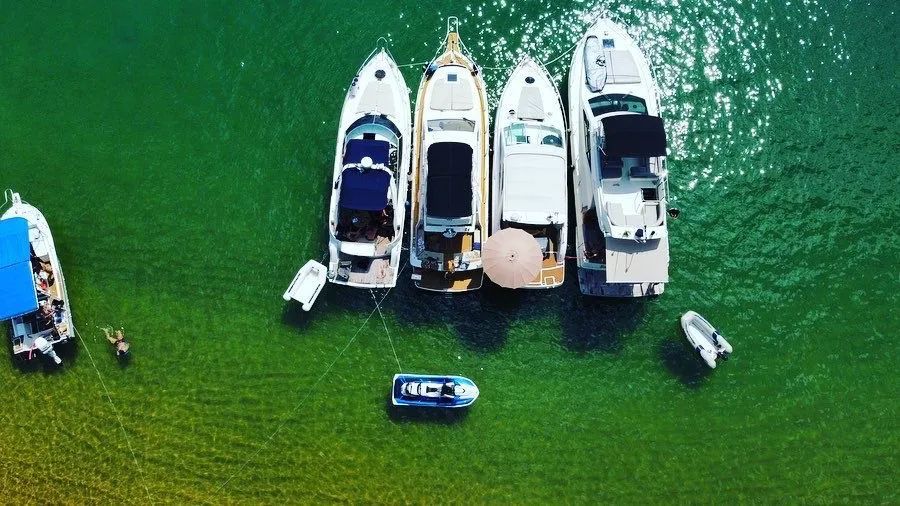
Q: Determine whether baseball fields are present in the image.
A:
No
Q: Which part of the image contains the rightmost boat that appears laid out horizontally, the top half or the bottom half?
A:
bottom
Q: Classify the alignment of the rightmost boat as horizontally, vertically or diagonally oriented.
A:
diagonally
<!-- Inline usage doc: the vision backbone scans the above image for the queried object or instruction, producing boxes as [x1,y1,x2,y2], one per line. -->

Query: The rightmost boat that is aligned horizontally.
[392,374,479,407]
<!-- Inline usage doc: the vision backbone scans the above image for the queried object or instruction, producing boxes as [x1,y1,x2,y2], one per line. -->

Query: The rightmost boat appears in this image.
[681,311,741,373]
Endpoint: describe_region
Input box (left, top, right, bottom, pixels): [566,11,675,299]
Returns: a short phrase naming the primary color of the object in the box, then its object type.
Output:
white boat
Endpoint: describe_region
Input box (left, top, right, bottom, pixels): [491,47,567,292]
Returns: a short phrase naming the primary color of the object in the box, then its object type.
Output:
white boat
